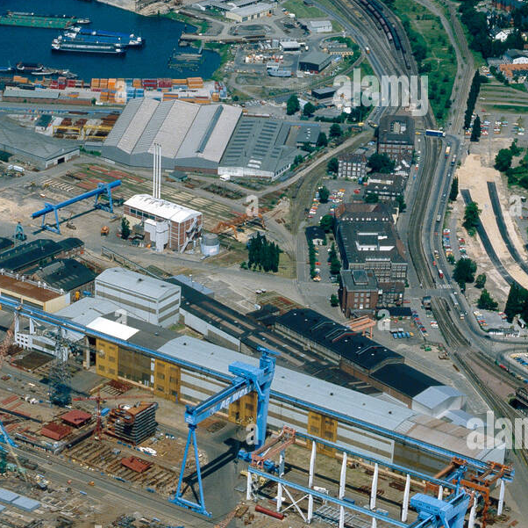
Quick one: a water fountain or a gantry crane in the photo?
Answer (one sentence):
Looking from above, you can make out a gantry crane.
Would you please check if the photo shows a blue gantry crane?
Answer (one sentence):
Yes, there's a blue gantry crane here.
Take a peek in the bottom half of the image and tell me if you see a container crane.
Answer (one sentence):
Yes, looking in the bottom half of the image, one can make out a container crane.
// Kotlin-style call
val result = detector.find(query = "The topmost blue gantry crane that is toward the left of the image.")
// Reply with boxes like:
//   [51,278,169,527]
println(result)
[30,180,123,230]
